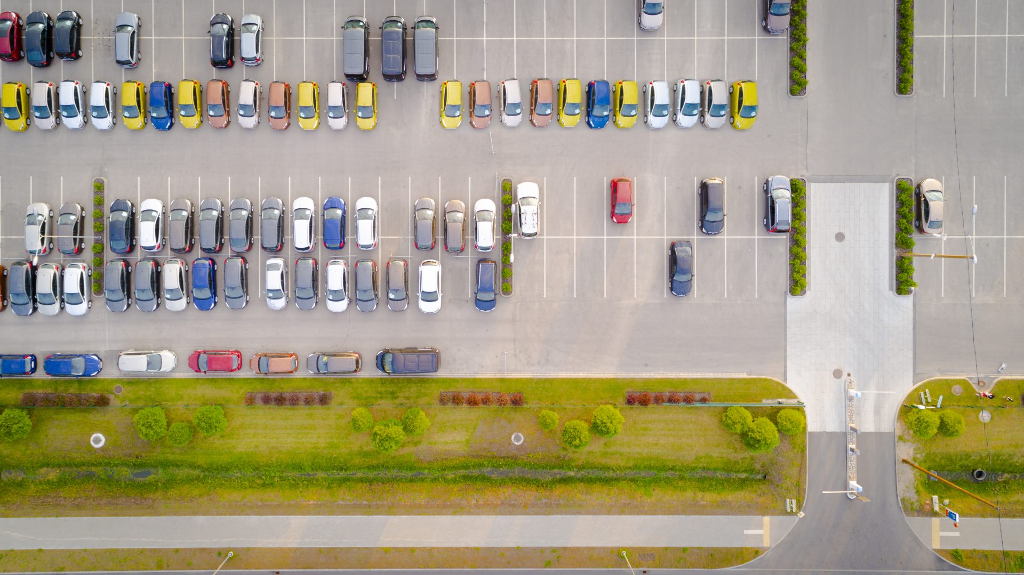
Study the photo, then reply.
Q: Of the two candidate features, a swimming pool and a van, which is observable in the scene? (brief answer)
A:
van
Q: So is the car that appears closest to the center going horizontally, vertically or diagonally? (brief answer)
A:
vertically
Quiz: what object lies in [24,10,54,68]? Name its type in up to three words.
car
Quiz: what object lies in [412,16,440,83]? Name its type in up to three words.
van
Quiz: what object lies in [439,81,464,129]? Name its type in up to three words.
car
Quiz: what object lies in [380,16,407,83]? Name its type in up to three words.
vehicle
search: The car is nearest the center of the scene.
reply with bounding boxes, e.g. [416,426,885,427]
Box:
[473,257,499,313]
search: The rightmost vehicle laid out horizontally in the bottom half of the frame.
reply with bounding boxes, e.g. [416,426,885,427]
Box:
[376,349,441,376]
